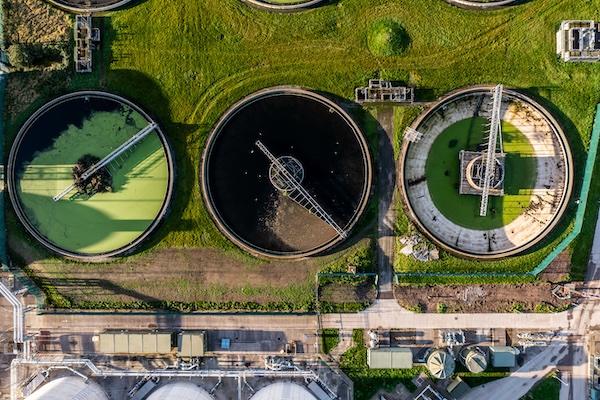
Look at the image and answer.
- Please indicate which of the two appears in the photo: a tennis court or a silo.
silo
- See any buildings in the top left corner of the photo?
No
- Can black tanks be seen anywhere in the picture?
Yes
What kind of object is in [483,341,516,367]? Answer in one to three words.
building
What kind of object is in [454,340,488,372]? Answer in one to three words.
silo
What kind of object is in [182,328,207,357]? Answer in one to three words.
building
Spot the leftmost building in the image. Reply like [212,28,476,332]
[100,330,175,353]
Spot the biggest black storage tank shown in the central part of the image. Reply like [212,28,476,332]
[202,87,372,258]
